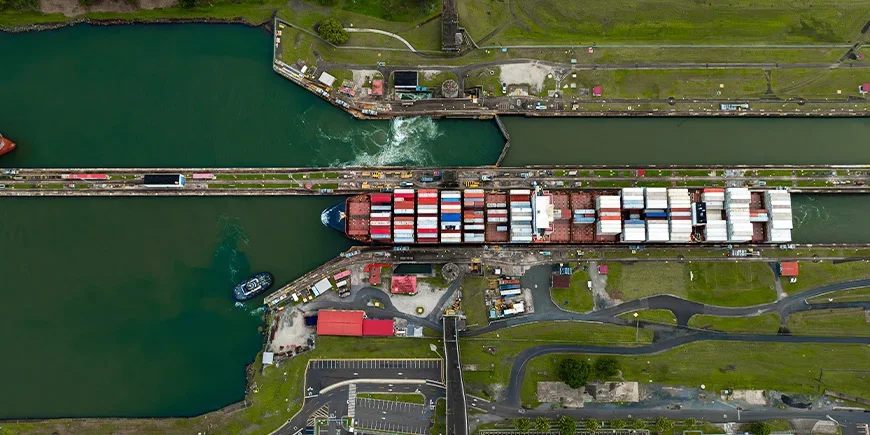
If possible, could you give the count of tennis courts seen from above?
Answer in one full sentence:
There are no tennis courts in the image.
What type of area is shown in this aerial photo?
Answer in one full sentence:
This looks like a port.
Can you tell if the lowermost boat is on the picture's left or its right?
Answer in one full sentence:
You can find the lowermost boat on the left side of the picture.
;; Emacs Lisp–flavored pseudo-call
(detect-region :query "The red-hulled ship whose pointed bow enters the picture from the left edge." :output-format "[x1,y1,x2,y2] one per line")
[0,137,23,159]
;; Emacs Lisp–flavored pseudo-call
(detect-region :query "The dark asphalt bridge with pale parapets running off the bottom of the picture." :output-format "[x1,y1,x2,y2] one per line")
[443,314,466,435]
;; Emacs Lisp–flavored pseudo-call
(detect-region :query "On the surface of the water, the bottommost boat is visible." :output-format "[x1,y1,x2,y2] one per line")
[233,273,274,299]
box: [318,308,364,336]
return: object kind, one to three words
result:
building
